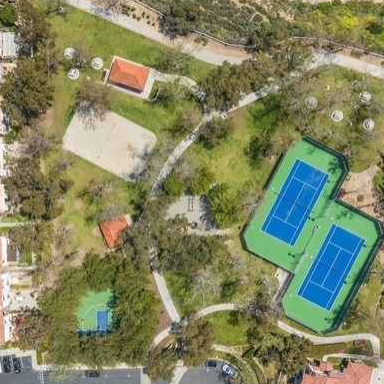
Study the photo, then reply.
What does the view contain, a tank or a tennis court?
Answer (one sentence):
Visible in the photo is a tennis court.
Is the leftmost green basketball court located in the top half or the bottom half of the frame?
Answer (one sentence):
Seen from above, the leftmost green basketball court lies in the bottom half of the view.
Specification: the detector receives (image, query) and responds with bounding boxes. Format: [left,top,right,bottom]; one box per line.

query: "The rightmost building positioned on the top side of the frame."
[109,58,149,91]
